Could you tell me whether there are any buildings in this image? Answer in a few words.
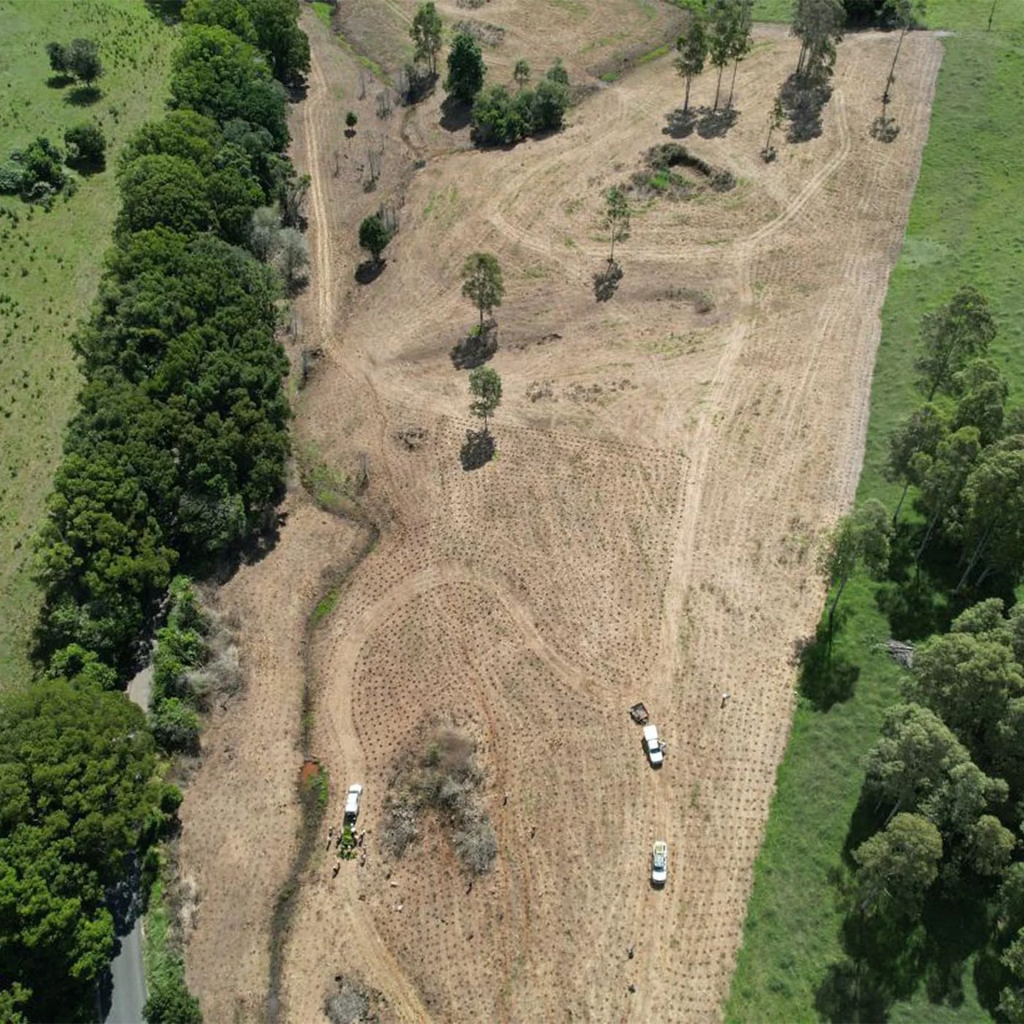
No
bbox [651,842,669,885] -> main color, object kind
white vehicle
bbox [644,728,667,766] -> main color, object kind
white truck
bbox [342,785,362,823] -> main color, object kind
white vehicle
